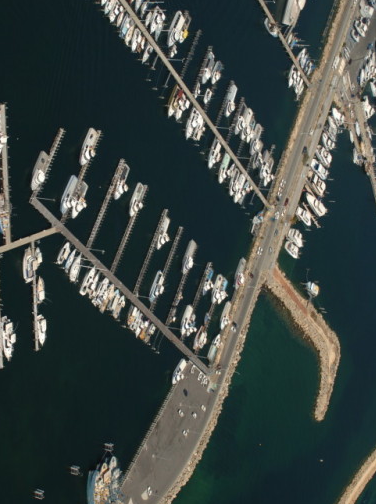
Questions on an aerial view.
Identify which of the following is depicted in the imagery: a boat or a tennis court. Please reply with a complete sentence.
This aerial view contains a boat.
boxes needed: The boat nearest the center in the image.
[183,239,199,273]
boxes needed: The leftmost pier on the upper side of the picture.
[0,103,14,246]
